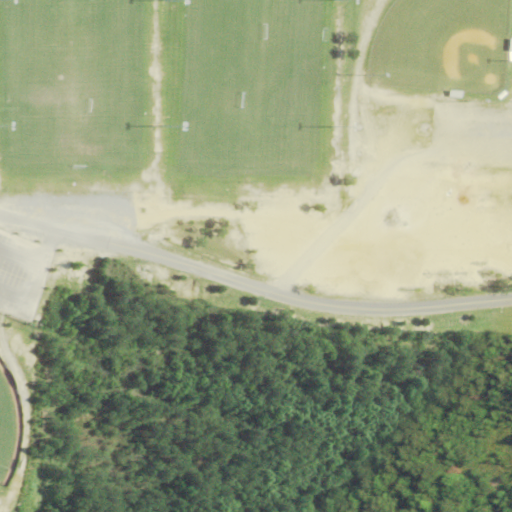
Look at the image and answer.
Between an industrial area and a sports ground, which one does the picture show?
sports ground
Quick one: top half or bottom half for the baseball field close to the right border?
top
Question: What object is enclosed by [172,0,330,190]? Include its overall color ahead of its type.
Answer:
green soccer field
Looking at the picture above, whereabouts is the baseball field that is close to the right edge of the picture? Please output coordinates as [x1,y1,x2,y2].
[364,0,510,102]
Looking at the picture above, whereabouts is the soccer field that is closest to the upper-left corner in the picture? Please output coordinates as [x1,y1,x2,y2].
[0,0,150,184]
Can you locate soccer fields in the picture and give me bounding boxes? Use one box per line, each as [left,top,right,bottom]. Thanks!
[172,0,330,190]
[0,0,150,184]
